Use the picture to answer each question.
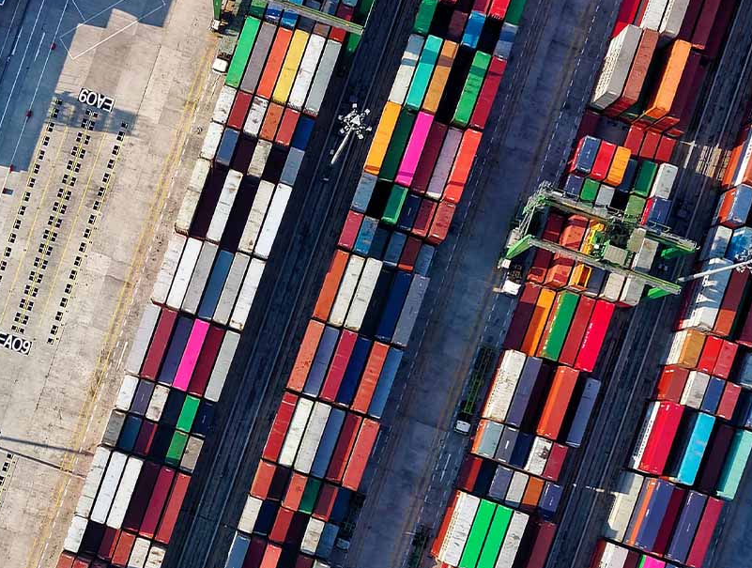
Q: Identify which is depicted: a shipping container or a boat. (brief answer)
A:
shipping container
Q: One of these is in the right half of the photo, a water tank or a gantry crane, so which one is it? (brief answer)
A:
gantry crane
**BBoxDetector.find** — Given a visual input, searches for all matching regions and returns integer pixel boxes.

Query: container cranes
[254,0,380,73]
[494,181,710,308]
